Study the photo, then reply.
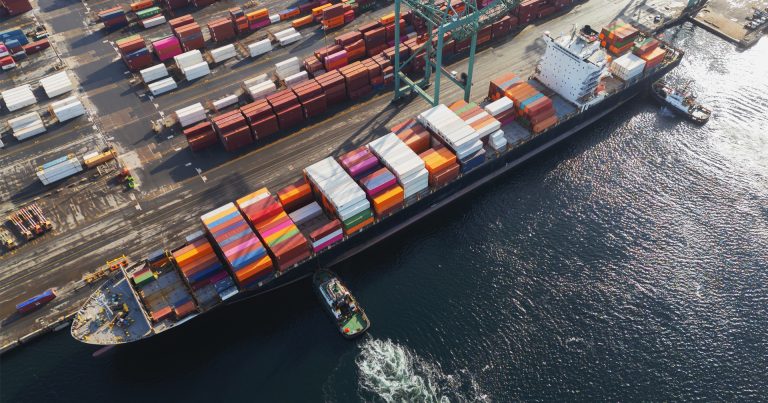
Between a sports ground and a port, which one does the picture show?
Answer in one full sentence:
The picture captures a port.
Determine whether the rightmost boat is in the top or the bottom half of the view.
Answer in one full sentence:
You can find the rightmost boat in the top half.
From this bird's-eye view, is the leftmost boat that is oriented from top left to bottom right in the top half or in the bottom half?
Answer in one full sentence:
The leftmost boat that is oriented from top left to bottom right sits in the bottom half of the picture.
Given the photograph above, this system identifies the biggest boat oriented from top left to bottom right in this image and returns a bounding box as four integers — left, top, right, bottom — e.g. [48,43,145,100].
[311,269,370,339]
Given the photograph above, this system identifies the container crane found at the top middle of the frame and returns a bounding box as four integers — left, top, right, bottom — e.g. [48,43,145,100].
[392,0,527,110]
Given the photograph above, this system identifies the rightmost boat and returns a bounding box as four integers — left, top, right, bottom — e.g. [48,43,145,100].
[648,86,712,125]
